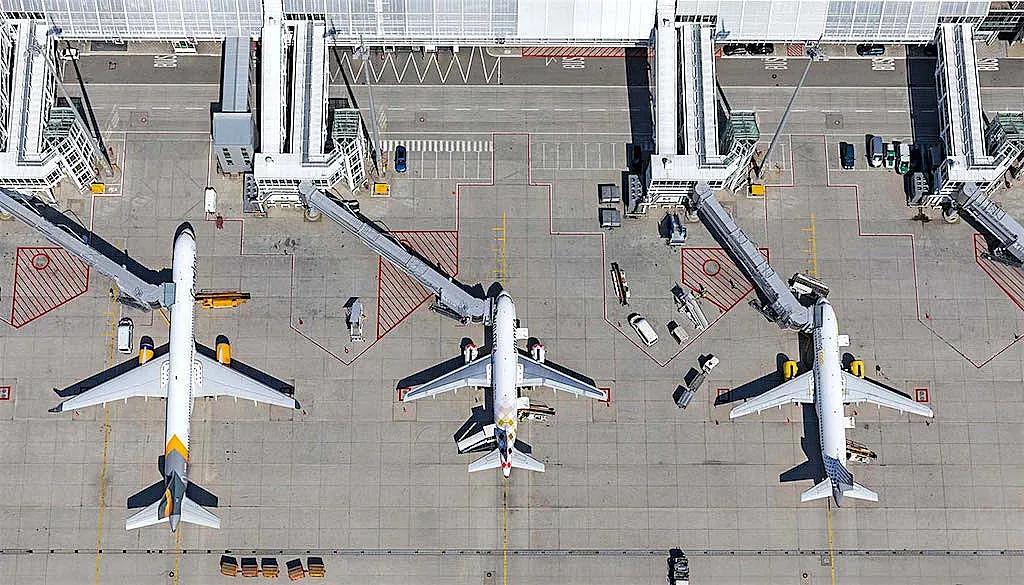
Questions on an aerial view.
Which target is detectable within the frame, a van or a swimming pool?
van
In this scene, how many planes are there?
3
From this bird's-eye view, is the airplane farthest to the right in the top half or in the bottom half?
bottom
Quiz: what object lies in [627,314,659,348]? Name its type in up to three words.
van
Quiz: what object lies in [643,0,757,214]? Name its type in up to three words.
building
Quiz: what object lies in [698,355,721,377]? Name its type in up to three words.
work vehicle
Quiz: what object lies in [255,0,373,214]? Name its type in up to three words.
building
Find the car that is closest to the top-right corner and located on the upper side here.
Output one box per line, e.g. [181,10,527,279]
[857,44,885,57]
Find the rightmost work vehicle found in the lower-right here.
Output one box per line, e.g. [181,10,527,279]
[844,444,878,466]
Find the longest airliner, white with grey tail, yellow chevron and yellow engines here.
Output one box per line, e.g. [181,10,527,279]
[49,223,300,533]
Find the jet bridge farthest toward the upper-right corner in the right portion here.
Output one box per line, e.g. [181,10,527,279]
[941,183,1024,254]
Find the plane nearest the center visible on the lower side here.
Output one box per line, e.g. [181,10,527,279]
[403,292,607,478]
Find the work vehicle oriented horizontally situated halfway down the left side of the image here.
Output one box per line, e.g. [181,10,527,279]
[196,290,251,310]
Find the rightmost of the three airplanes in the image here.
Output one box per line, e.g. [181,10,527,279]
[730,298,934,508]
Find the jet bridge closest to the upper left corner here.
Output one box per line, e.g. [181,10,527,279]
[0,192,179,315]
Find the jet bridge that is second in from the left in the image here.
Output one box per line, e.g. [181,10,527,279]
[297,180,498,329]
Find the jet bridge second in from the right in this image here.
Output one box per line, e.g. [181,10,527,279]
[685,181,832,337]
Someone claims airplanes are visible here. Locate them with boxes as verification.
[49,223,300,533]
[403,292,607,478]
[730,298,934,508]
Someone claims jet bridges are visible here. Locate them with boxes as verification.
[297,180,498,329]
[685,181,832,337]
[0,192,179,315]
[941,183,1024,254]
